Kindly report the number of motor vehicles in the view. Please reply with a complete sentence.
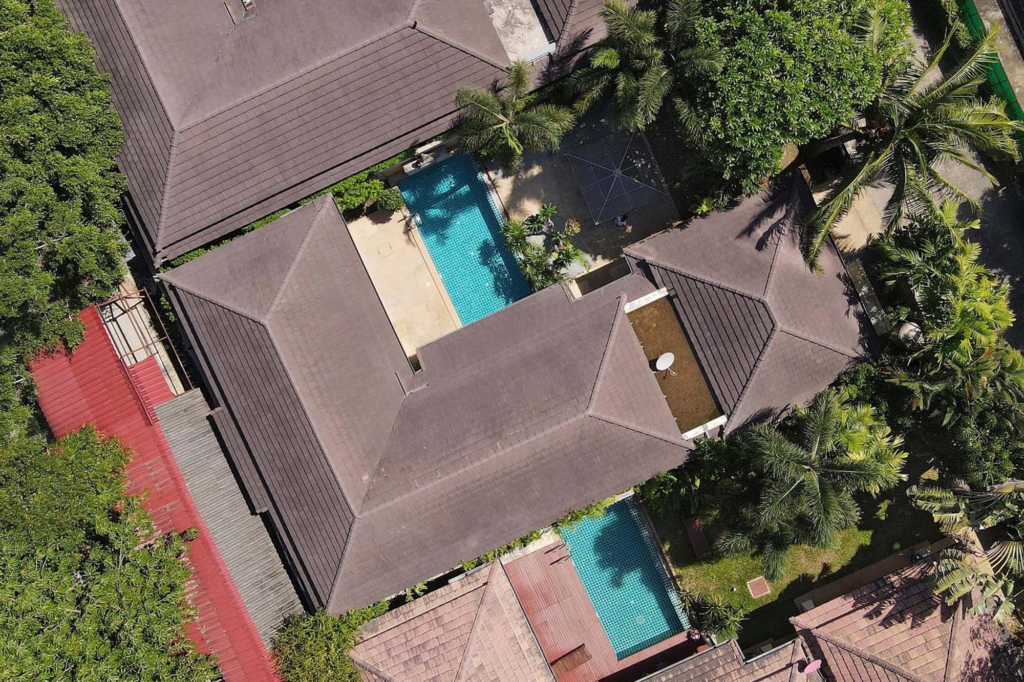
There are no motor vehicles in the image.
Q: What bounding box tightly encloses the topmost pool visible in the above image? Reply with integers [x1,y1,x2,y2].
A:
[395,150,543,330]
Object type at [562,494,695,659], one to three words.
swimming pool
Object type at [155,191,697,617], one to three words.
house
